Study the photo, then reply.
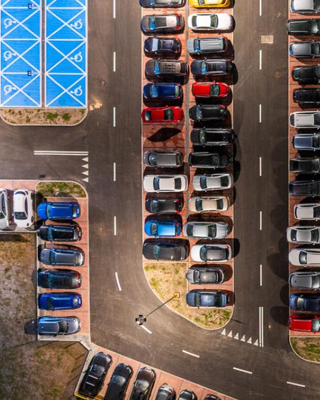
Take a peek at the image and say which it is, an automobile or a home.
automobile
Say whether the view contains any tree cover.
No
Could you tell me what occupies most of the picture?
paved ground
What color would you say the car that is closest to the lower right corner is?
red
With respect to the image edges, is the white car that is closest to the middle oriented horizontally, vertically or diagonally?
horizontally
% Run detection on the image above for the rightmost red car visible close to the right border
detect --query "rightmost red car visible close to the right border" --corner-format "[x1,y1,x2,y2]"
[289,313,320,335]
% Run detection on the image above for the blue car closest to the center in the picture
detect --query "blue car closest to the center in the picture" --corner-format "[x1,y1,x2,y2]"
[146,219,182,239]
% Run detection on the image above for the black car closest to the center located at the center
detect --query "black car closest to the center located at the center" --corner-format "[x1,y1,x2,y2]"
[147,196,182,216]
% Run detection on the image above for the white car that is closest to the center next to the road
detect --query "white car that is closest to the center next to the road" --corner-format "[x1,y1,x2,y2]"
[145,174,188,194]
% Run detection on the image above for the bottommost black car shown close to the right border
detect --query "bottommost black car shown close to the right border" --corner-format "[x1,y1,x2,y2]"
[289,292,320,313]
